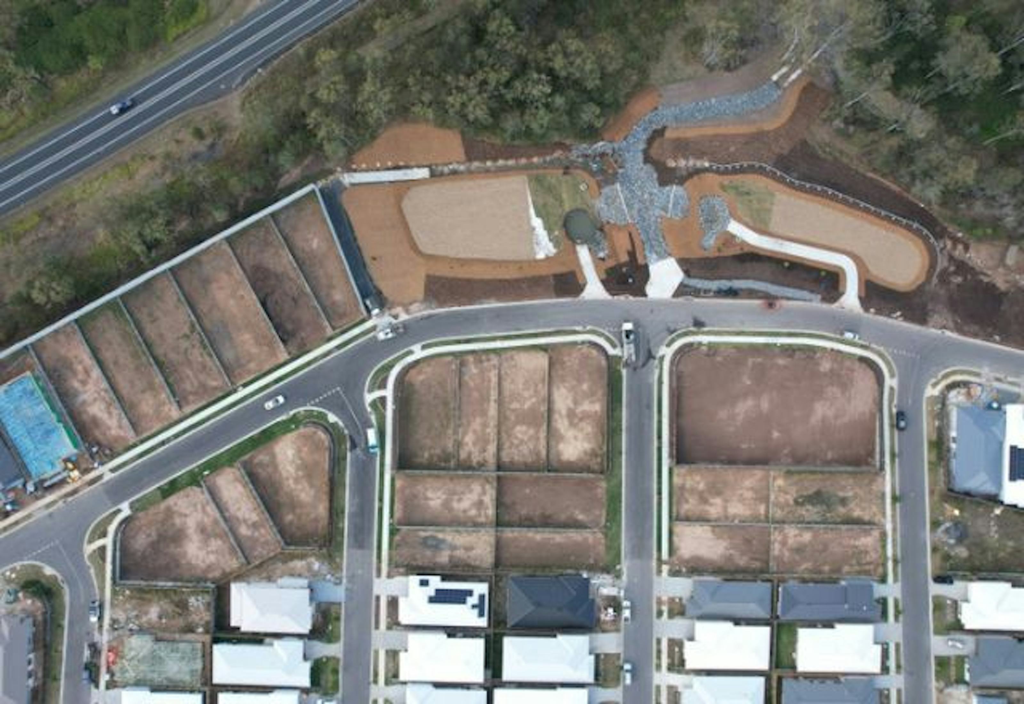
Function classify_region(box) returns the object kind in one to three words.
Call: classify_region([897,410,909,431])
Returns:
vehicle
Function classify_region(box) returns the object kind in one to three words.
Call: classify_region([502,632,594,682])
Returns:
house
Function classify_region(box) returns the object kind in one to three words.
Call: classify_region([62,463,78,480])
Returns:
work vehicle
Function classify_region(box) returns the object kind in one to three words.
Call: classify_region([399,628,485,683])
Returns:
house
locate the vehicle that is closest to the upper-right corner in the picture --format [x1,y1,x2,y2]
[840,328,864,343]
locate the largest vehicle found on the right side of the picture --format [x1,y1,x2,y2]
[623,322,636,363]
